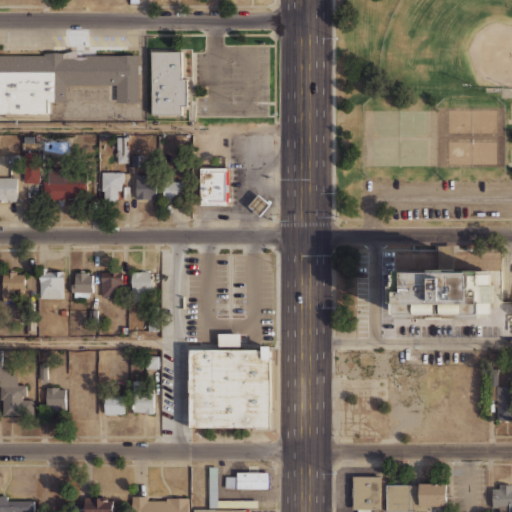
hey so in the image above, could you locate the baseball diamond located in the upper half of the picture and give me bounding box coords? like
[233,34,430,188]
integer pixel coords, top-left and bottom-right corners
[470,24,512,88]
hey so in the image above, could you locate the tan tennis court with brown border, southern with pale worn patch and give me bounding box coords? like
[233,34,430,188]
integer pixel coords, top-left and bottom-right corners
[449,142,497,165]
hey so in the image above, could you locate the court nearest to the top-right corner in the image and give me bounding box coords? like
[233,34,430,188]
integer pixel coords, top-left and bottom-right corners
[449,110,497,134]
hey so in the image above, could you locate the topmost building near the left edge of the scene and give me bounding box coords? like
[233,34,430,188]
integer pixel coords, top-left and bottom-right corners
[0,54,140,121]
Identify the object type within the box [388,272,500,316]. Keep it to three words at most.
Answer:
building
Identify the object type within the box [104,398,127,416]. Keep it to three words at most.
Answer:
house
